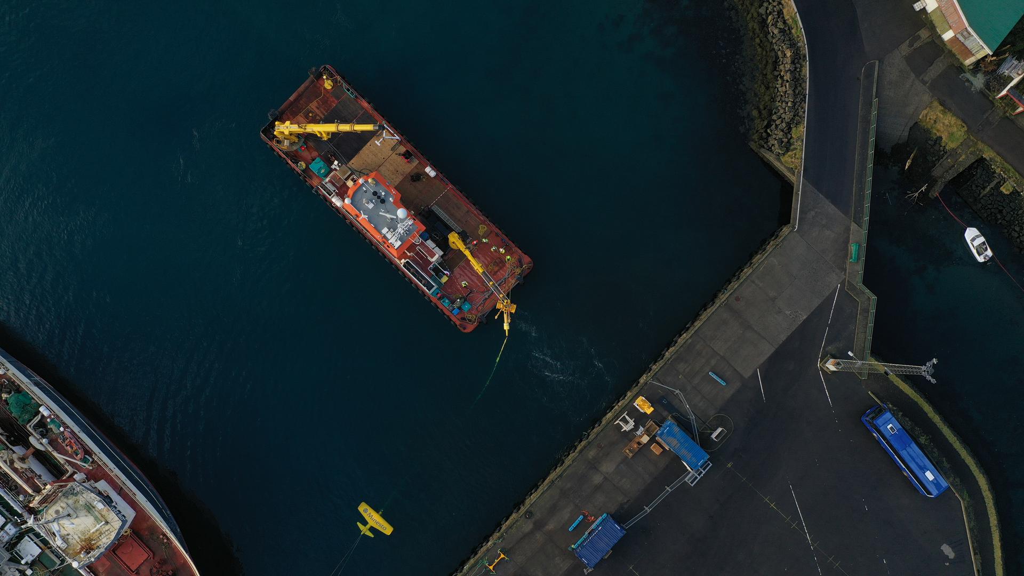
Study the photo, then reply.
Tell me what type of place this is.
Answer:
port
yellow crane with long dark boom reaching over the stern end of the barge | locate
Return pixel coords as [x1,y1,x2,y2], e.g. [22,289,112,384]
[445,232,517,335]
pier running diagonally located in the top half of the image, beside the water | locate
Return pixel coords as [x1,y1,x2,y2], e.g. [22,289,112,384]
[923,137,980,202]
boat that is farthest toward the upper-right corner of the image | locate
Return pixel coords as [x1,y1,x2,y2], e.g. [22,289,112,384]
[966,227,991,262]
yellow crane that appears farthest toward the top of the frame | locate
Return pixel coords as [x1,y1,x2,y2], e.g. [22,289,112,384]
[271,119,386,151]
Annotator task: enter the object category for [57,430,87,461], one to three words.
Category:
boat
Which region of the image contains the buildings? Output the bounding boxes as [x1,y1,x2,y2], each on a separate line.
[988,68,1024,116]
[925,0,1024,66]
